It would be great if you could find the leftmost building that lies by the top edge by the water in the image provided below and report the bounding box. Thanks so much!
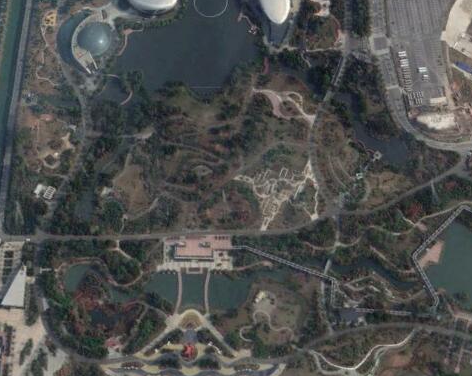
[60,8,113,74]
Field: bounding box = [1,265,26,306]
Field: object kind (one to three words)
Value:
building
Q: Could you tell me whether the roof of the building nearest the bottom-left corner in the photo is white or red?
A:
white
